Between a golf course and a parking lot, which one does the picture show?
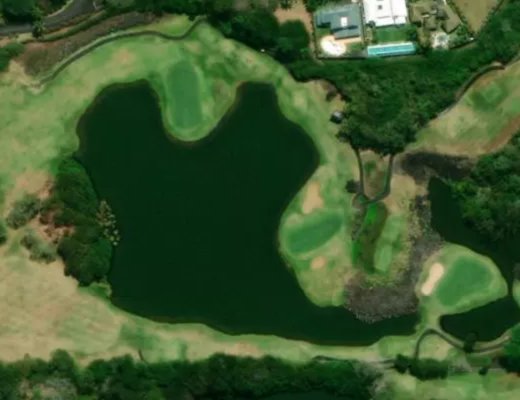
golf course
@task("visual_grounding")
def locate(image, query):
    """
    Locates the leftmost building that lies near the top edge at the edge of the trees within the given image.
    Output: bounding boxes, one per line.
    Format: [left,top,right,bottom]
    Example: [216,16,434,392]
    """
[315,4,360,39]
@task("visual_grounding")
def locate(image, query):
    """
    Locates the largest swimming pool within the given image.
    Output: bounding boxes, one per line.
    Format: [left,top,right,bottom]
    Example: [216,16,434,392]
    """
[367,43,415,57]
